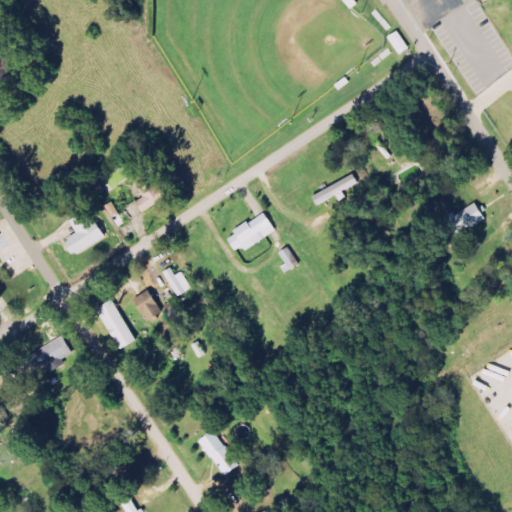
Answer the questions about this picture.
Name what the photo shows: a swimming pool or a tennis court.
swimming pool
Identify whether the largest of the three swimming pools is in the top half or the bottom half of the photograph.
top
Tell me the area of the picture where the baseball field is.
top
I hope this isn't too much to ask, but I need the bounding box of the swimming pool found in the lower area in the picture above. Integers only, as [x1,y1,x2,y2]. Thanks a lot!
[235,423,250,439]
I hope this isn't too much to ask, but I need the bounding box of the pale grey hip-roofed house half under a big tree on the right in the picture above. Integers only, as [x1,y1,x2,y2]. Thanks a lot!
[452,202,486,230]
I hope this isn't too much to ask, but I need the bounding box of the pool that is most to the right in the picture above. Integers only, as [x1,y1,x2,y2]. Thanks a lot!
[392,161,416,186]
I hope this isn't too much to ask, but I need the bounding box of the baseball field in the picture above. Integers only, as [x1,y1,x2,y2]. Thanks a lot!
[154,0,382,162]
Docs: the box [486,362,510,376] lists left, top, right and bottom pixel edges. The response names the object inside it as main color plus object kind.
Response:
white vehicle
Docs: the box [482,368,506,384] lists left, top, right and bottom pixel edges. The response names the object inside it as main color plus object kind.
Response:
white vehicle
